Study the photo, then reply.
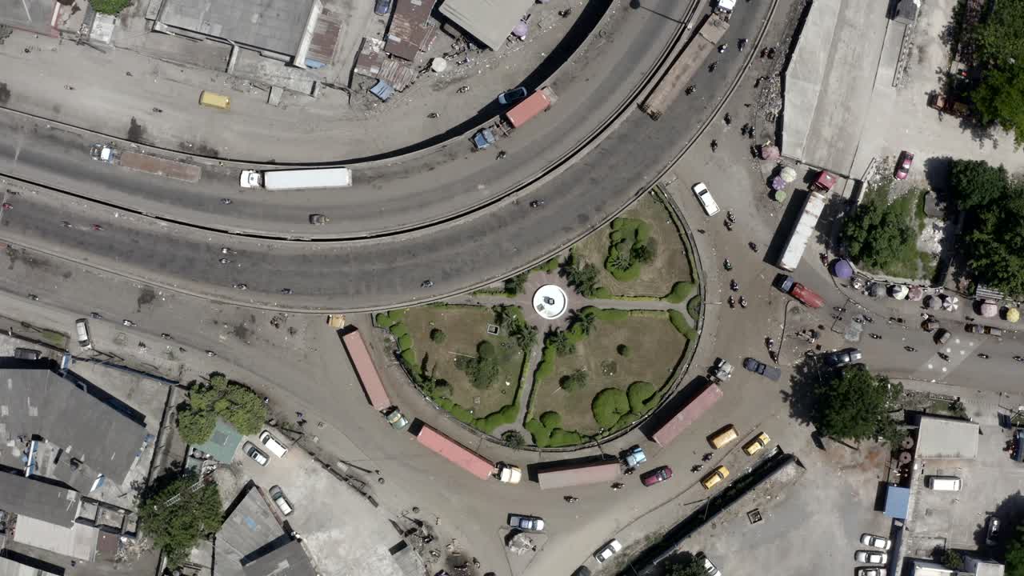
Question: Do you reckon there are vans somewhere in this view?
Yes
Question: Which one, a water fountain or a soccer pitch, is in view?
water fountain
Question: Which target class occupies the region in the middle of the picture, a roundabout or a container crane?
roundabout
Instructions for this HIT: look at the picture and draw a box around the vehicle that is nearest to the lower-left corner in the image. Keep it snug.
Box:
[12,345,48,360]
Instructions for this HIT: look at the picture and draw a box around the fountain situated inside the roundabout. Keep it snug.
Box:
[533,285,566,318]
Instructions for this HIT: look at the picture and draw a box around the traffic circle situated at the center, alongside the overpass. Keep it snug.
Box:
[369,179,722,460]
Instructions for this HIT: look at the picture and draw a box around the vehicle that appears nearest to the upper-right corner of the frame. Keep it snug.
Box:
[921,89,967,119]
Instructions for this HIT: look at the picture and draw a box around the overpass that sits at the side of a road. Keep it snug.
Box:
[0,0,779,313]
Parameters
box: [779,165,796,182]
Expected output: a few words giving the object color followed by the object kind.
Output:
white umbrella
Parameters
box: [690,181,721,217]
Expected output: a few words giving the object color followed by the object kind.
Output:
white truck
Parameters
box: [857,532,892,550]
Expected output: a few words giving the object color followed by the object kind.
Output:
white car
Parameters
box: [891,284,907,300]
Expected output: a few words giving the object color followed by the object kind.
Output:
white umbrella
